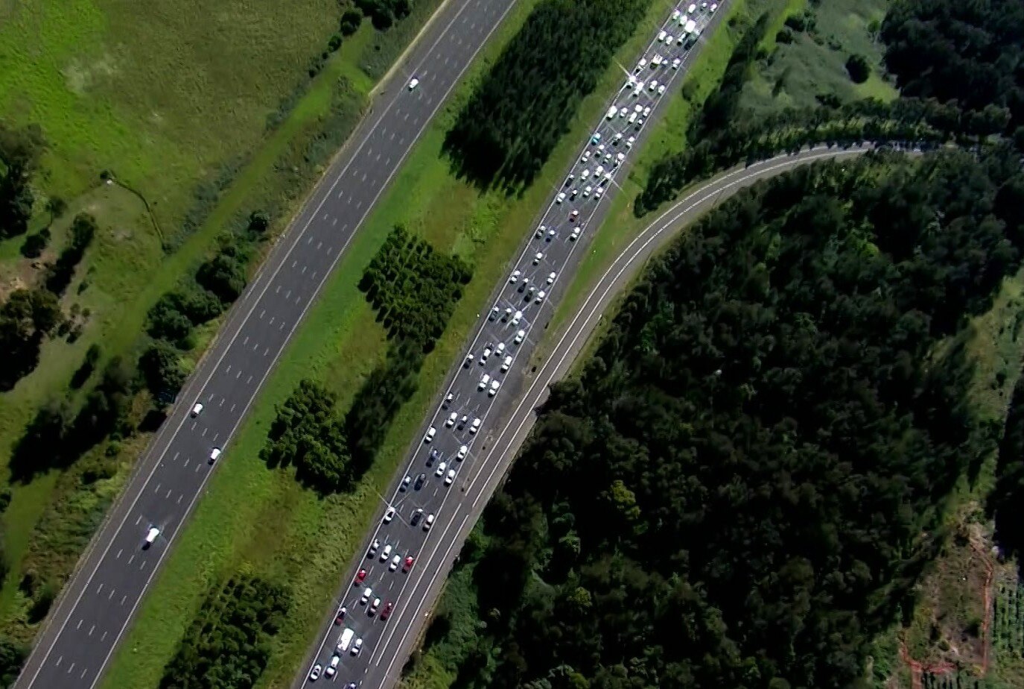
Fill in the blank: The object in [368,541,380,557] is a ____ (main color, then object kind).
gray vehicle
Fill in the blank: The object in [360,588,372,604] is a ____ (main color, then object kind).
white vehicle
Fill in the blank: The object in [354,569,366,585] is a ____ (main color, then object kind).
red vehicle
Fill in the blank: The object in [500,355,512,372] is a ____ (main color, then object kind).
white vehicle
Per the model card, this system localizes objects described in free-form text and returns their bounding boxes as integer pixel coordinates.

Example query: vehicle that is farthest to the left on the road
[144,530,159,546]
